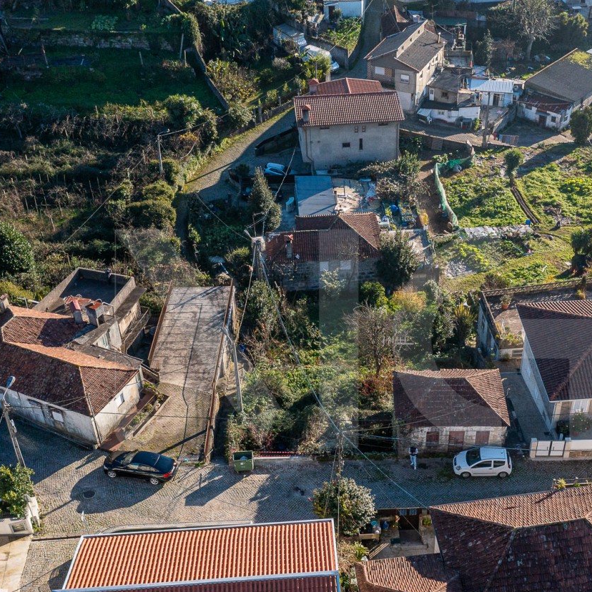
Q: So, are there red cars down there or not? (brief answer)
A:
No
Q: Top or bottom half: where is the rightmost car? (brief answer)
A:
bottom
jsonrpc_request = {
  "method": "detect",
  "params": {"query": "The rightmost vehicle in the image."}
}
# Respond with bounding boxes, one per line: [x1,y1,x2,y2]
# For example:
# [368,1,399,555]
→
[454,443,514,476]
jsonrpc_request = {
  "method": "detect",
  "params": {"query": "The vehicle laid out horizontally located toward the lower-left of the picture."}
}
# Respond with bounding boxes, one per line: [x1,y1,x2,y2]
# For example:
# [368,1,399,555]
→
[98,443,179,482]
